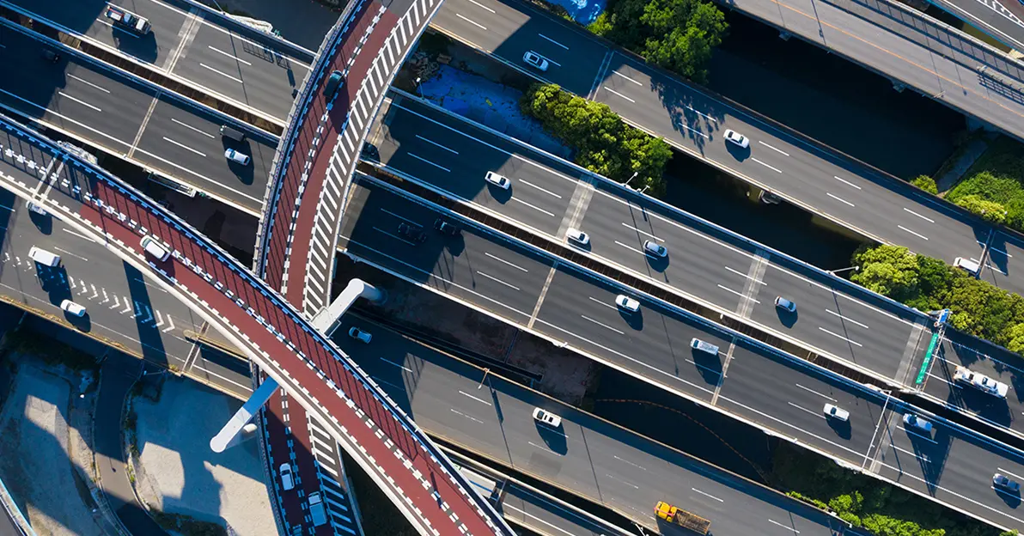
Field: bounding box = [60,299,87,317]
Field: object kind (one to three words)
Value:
car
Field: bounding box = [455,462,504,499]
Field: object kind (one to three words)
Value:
truck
